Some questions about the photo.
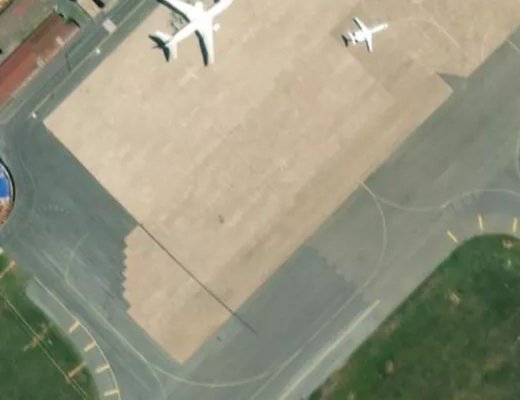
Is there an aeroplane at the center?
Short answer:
No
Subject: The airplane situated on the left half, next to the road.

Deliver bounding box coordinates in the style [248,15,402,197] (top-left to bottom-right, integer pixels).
[155,0,233,64]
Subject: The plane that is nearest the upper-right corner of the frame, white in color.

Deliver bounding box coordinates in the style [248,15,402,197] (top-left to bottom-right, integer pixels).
[347,16,388,52]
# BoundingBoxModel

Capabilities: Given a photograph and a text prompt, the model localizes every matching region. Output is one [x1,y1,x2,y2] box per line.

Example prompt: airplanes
[155,0,233,64]
[347,16,388,52]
